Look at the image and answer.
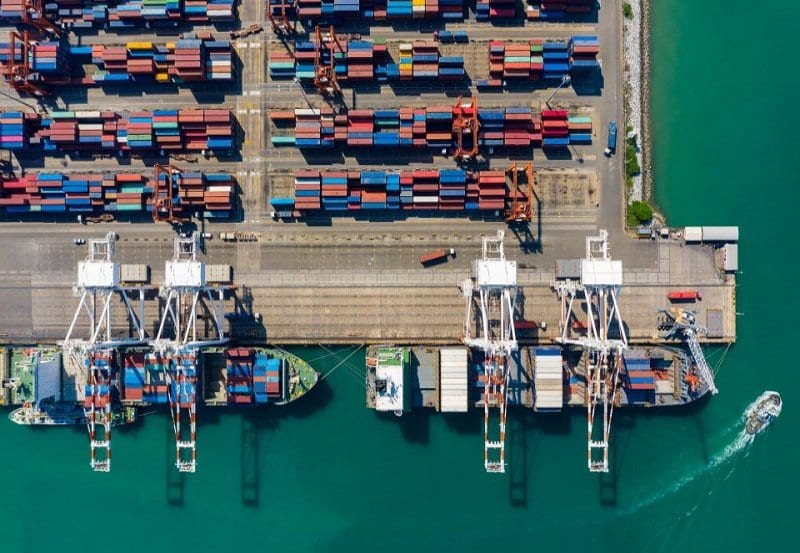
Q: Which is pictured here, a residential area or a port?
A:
port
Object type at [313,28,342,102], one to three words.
crane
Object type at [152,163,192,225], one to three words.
crane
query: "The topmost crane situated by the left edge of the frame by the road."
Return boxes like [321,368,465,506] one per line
[22,0,71,34]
